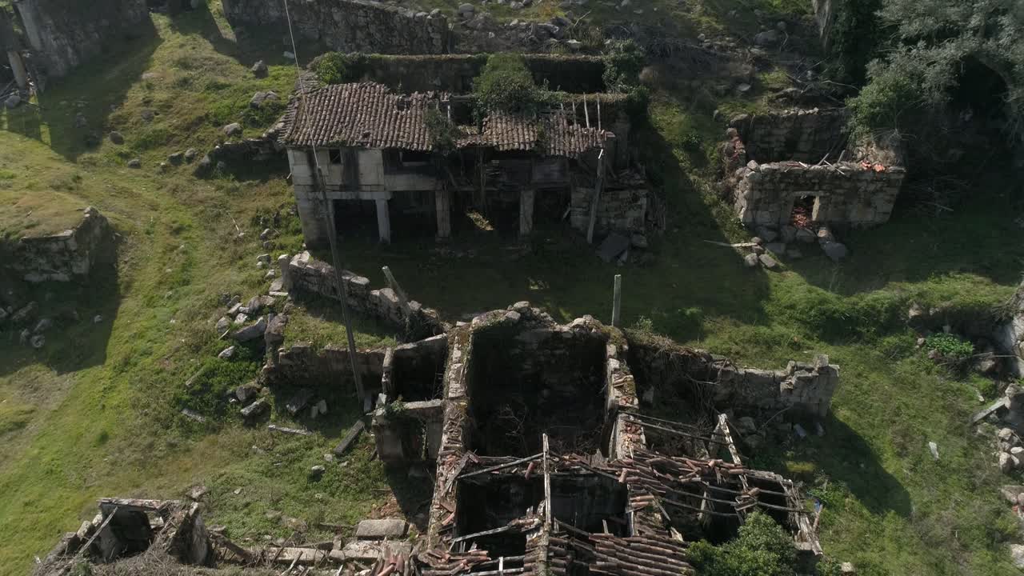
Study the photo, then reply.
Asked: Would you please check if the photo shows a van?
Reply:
No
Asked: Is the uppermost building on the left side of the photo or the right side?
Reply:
left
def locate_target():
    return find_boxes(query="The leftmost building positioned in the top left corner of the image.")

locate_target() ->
[0,0,157,81]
